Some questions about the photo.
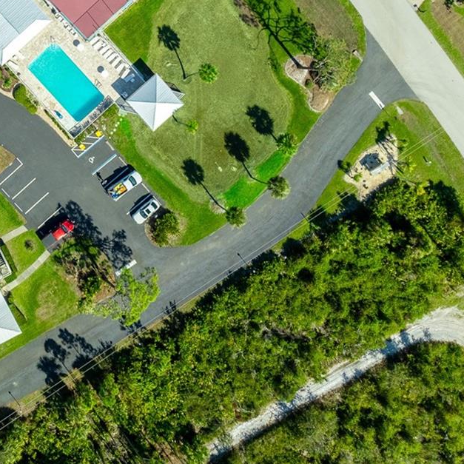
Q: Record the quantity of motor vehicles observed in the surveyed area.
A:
3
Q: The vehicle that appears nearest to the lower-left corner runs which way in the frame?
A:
on a diagonal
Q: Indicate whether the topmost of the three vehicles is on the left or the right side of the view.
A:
left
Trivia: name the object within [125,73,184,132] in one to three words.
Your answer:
gazebo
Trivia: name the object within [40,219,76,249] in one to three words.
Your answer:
vehicle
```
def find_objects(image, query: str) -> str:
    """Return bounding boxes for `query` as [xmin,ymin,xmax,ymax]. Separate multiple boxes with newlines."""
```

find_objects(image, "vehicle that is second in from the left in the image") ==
[109,171,143,202]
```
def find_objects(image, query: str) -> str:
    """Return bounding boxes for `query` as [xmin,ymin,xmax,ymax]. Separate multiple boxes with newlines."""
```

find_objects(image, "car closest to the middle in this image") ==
[133,198,160,224]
